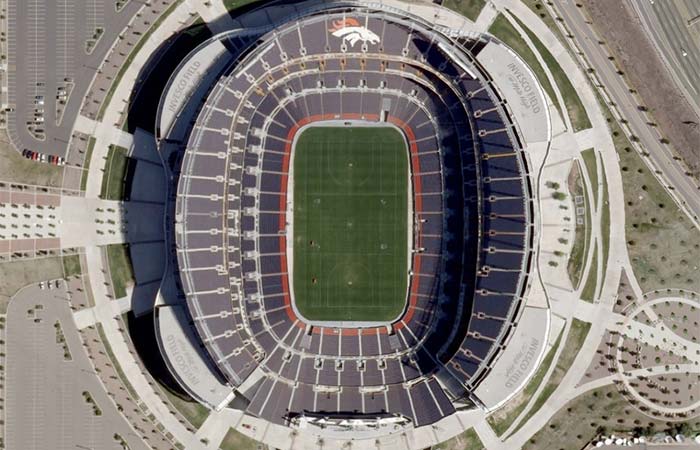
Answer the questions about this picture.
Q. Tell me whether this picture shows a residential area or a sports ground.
sports ground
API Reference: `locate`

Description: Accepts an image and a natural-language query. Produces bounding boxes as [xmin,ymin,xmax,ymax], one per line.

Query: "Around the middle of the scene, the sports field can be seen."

[287,120,414,328]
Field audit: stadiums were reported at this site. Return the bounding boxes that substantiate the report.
[154,1,550,432]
